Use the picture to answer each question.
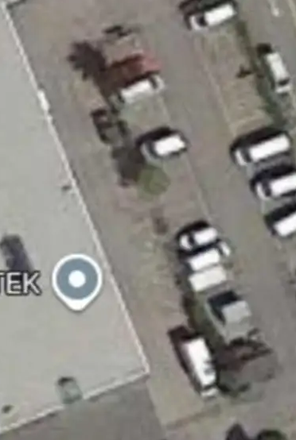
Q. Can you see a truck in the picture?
Yes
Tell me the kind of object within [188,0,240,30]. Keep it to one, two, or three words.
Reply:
car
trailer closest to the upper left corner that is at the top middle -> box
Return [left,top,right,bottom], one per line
[103,36,143,64]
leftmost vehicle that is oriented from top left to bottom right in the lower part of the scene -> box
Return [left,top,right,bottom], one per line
[171,333,223,400]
